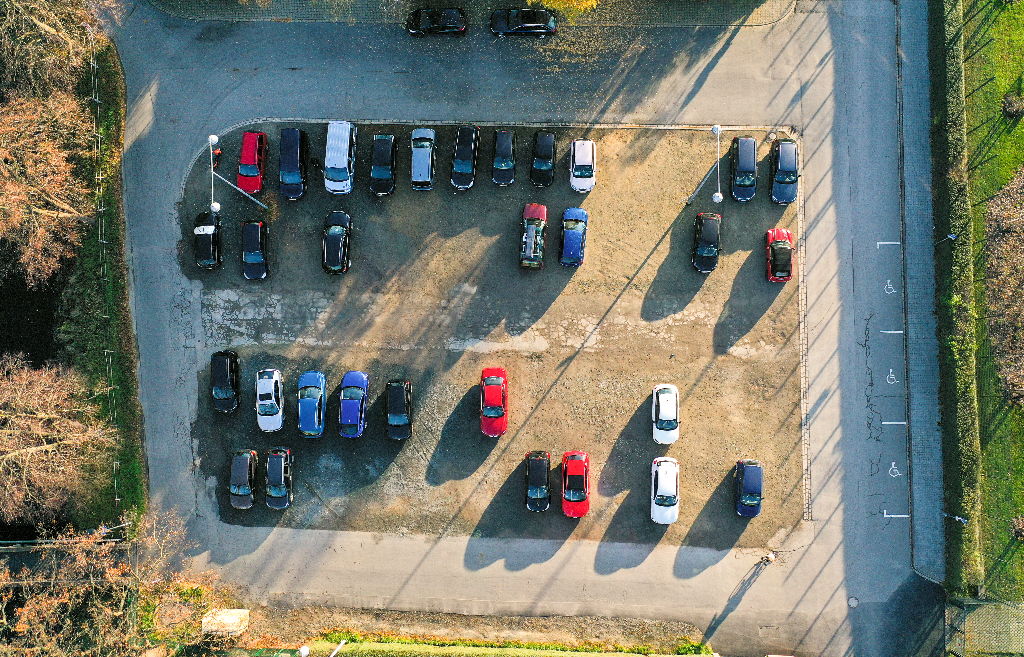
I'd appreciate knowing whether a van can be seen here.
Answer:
Yes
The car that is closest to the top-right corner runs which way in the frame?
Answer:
from top to bottom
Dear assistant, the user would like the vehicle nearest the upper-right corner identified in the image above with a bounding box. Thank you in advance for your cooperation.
[768,136,802,207]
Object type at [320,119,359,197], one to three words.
van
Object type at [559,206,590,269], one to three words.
car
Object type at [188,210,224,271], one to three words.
car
